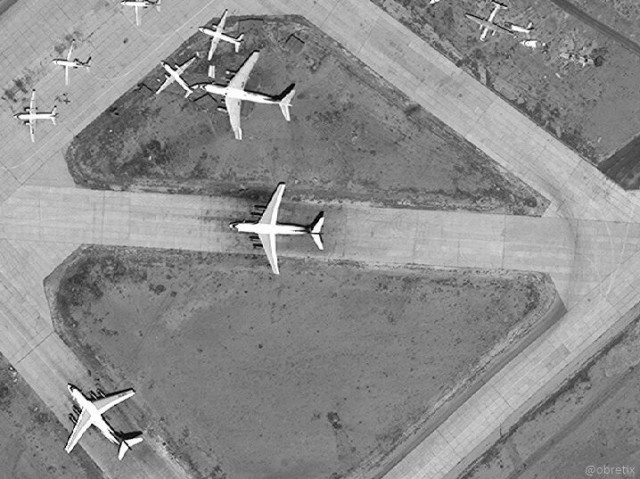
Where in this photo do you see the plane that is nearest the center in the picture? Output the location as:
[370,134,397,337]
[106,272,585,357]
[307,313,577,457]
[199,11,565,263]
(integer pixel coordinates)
[230,184,324,276]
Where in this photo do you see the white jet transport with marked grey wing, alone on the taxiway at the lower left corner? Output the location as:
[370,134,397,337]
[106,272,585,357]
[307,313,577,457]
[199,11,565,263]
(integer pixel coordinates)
[68,384,143,463]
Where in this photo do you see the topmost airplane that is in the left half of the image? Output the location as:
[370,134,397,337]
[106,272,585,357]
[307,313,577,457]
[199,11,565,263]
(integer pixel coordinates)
[121,0,159,26]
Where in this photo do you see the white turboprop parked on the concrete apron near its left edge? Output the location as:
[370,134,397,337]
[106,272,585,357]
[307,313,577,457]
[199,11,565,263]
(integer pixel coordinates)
[15,90,58,142]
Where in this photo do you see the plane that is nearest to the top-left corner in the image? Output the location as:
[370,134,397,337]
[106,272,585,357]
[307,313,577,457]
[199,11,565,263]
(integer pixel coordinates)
[53,42,90,86]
